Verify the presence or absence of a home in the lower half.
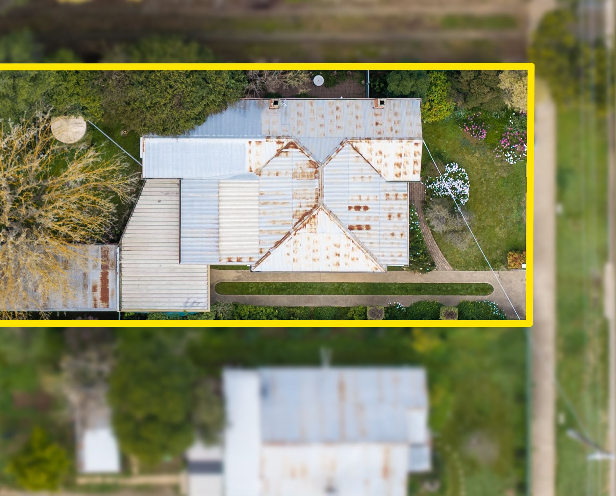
Yes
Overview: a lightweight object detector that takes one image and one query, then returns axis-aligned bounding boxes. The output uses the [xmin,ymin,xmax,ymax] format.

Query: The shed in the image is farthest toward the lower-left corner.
[81,425,120,473]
